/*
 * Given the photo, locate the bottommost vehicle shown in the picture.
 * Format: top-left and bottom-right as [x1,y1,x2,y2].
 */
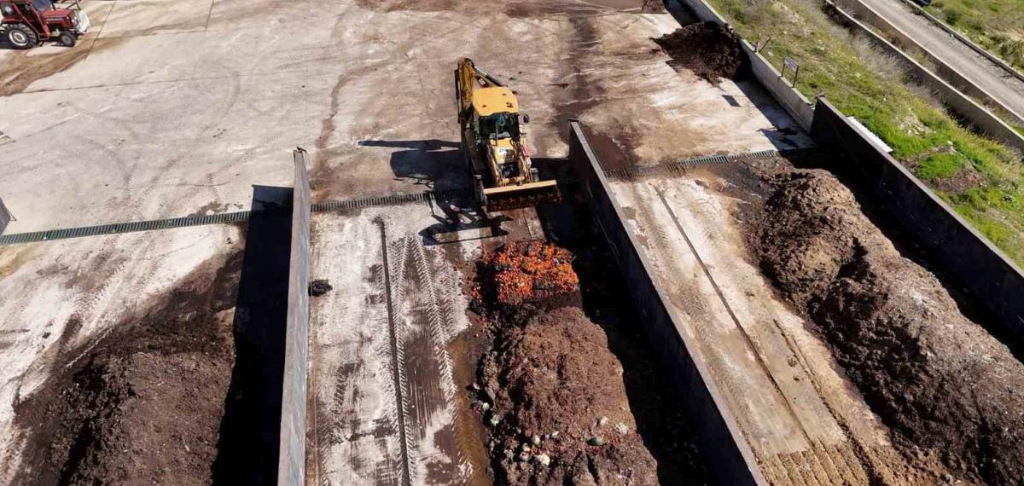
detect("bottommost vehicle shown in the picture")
[451,56,562,211]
